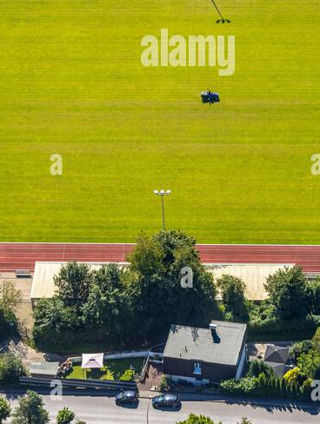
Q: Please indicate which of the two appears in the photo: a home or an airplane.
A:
home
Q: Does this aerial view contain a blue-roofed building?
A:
No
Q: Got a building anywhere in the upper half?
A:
No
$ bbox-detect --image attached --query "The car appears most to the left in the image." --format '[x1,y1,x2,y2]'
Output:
[113,389,140,403]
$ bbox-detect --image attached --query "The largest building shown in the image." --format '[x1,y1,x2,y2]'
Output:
[159,324,253,394]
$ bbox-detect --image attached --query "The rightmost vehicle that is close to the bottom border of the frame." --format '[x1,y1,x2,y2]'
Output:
[151,390,181,405]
